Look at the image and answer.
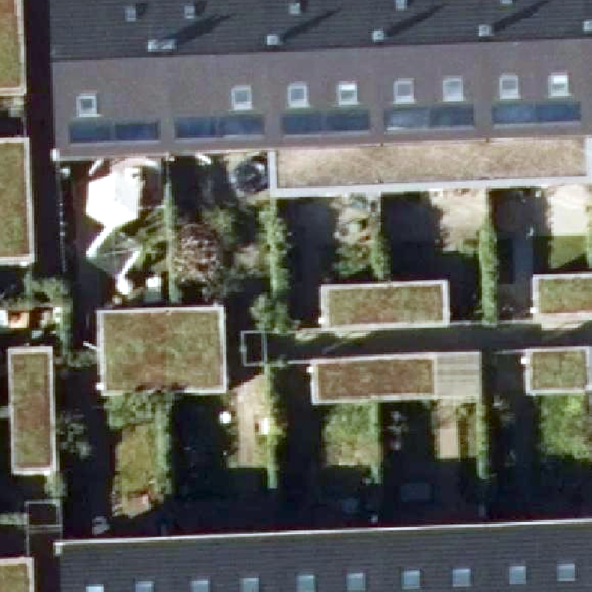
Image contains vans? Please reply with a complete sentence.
No, I find no van anywhere in the image.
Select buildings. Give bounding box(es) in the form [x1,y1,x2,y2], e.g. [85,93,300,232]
[529,274,592,320]
[520,347,592,394]
[48,0,592,197]
[8,346,55,474]
[0,137,34,265]
[0,558,34,592]
[307,357,437,404]
[318,282,449,328]
[97,306,227,393]
[54,519,592,592]
[0,0,26,95]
